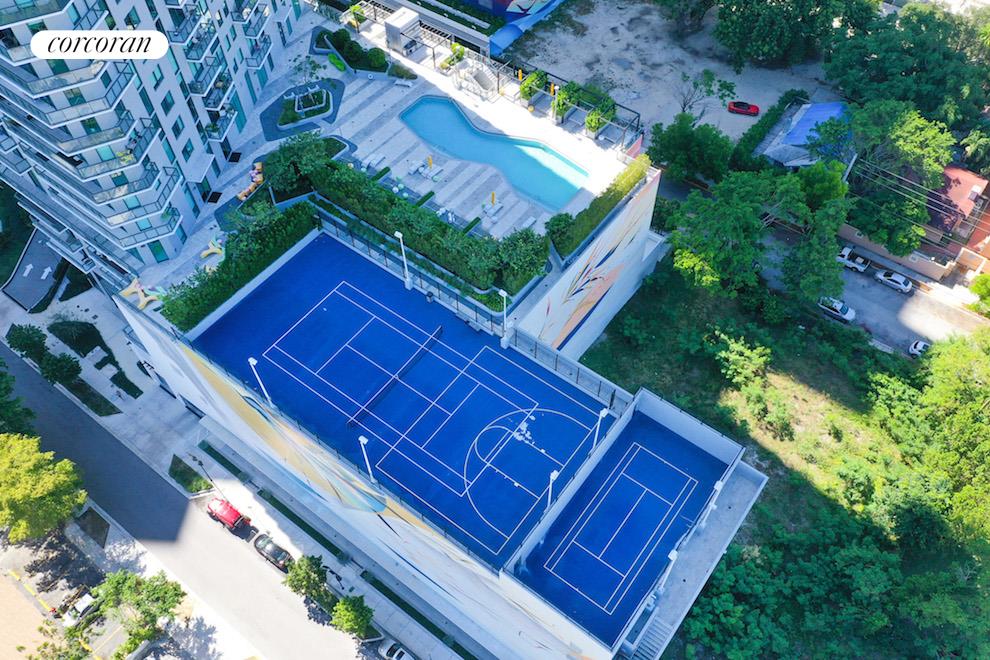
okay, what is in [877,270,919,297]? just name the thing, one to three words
car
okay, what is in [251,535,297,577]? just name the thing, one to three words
car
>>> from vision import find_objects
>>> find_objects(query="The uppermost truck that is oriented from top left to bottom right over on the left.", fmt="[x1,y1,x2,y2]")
[204,498,257,545]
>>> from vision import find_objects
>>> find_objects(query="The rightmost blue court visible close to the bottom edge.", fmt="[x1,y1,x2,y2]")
[510,410,729,650]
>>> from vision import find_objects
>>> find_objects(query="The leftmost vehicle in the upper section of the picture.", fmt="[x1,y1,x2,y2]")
[725,103,759,120]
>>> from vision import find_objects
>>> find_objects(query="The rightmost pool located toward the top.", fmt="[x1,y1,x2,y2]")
[396,93,597,215]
